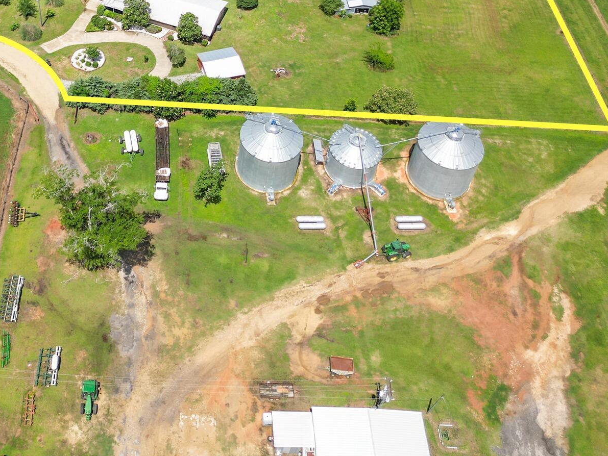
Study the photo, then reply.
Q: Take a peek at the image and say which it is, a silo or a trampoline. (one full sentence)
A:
This aerial view contains a silo.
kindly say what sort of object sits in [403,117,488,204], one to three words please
silo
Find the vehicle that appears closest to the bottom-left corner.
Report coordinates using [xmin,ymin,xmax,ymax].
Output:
[79,382,101,423]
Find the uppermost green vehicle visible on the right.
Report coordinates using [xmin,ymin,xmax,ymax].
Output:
[383,238,419,263]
